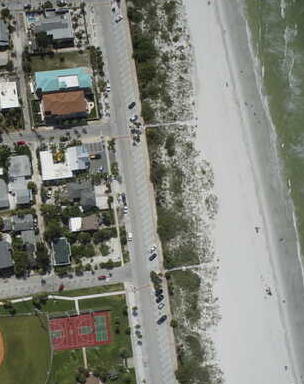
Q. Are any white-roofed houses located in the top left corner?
Yes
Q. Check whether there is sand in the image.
Yes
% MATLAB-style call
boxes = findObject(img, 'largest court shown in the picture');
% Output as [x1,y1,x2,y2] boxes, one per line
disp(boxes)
[50,311,97,349]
